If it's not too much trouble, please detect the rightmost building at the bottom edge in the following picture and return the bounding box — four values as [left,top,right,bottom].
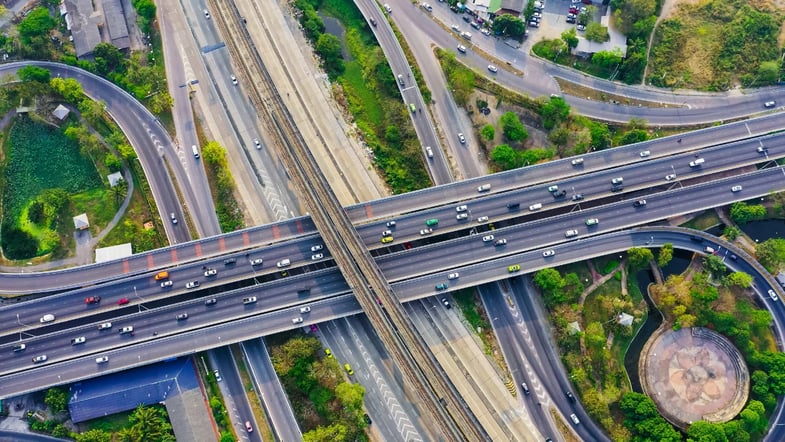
[67,357,219,442]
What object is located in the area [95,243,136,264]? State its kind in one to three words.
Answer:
building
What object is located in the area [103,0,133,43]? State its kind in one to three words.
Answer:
building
